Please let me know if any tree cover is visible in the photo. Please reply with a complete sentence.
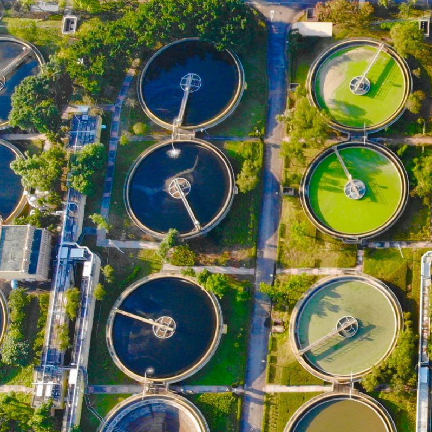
Yes, some tree cover is visible.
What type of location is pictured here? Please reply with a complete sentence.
The area seen from above is an industrial area.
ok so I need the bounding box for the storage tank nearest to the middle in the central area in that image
[125,136,237,246]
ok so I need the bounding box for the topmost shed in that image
[30,4,63,17]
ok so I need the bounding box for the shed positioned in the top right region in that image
[294,22,335,44]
